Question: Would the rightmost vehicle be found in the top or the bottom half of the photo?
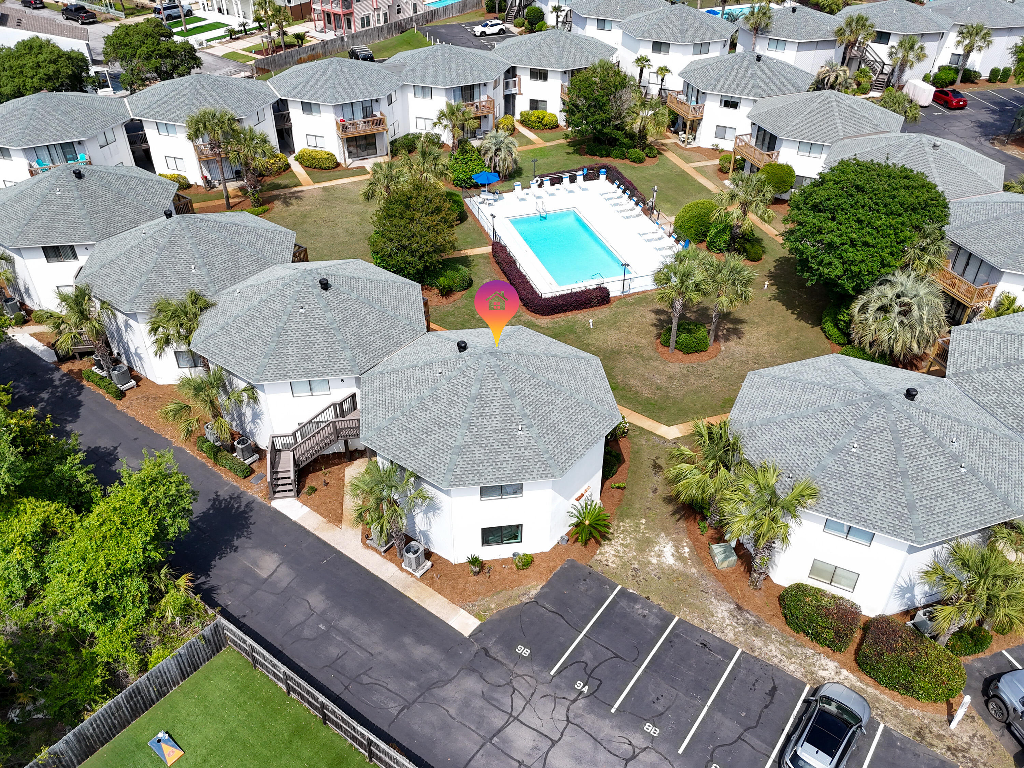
bottom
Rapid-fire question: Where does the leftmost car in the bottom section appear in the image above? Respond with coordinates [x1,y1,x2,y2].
[781,675,879,768]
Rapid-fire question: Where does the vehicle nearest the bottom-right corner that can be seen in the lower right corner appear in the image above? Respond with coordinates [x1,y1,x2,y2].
[988,667,1024,732]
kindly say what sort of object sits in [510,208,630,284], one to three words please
swimming pool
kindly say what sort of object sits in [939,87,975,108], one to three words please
car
